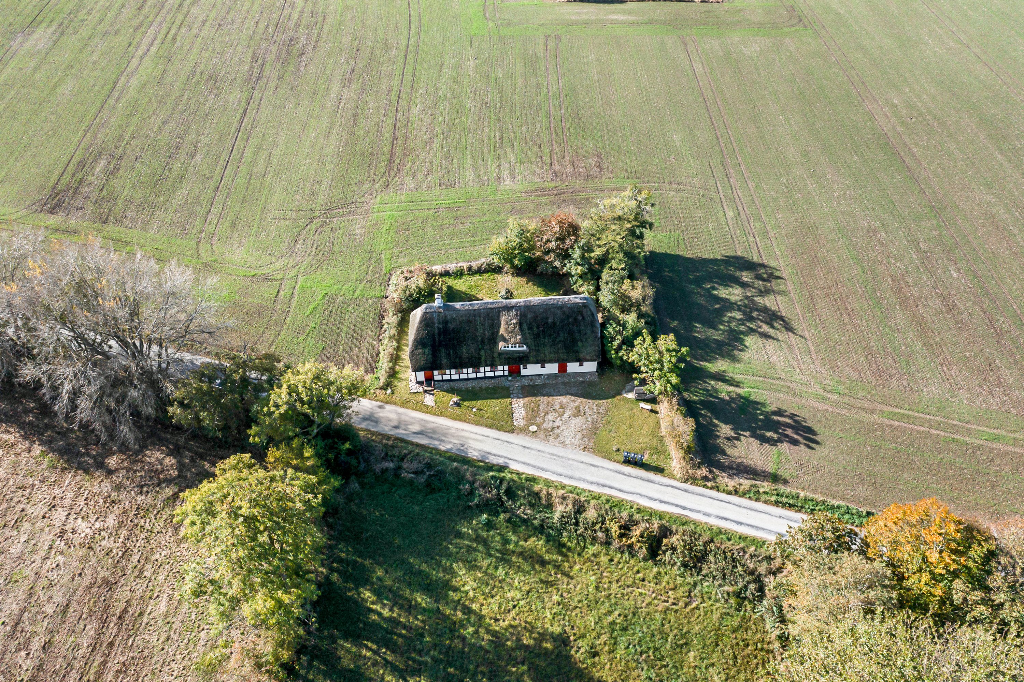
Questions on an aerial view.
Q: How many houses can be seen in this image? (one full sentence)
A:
There is 1 house in the image.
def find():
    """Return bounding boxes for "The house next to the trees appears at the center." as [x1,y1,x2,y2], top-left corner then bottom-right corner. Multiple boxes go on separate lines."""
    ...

[406,292,603,383]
